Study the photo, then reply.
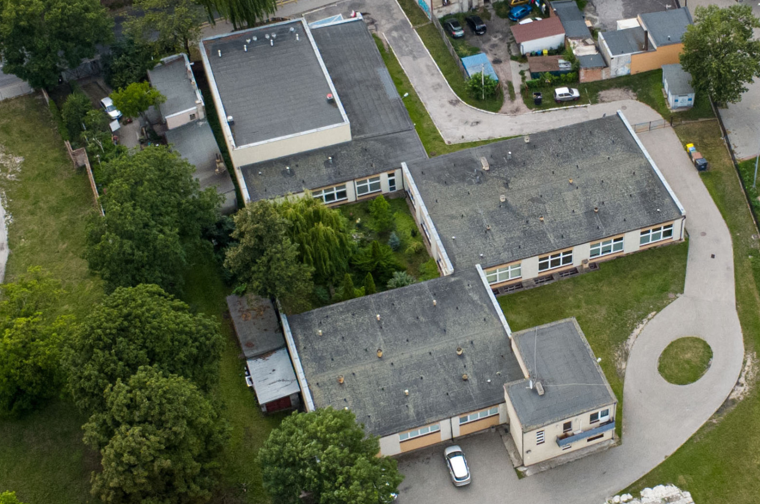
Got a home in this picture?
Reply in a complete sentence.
Yes, the picture does show a home.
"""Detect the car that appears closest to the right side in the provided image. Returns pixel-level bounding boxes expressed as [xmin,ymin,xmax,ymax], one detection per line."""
[552,87,581,104]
